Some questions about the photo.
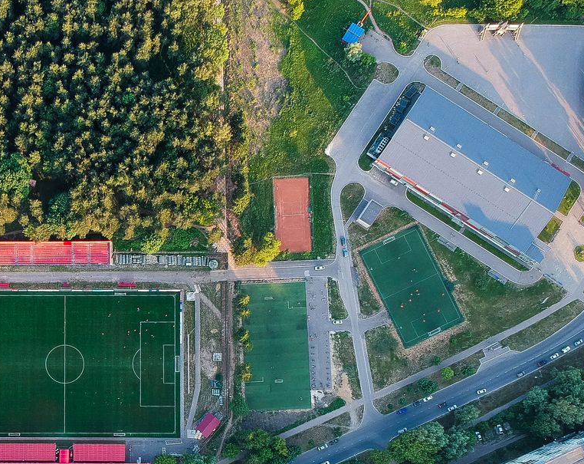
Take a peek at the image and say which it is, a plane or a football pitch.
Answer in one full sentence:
This aerial view contains a football pitch.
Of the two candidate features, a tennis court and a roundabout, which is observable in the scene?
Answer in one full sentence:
Visible in the photo is a tennis court.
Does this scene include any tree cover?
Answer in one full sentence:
Yes, some tree cover is visible.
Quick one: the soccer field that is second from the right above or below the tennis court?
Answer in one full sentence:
From this view, the soccer field that is second from the right can be seen below the tennis court.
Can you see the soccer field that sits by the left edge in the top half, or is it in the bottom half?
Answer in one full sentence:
The soccer field that sits by the left edge is in the bottom half of the image.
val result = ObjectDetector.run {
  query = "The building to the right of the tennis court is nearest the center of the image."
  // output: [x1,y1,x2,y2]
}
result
[354,199,383,230]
